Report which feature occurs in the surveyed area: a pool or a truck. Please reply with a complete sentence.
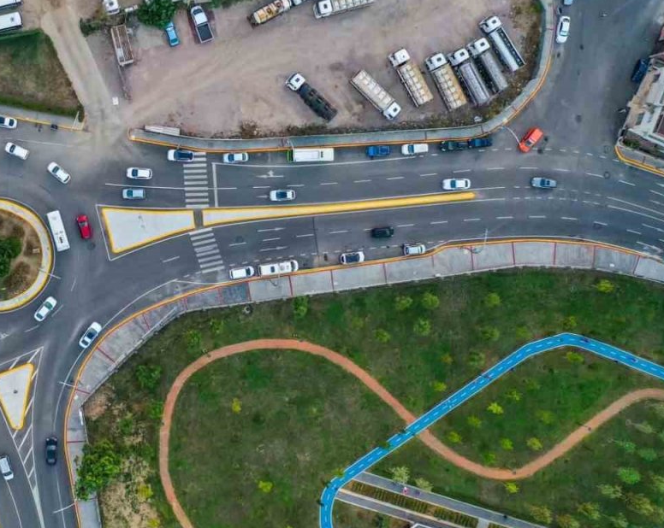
Visible in the photo is a truck.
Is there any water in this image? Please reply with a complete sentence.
No, the scene doesn't show any water.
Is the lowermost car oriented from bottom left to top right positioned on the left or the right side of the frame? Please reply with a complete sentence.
It is on the left.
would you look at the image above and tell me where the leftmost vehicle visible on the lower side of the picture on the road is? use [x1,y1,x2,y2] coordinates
[0,453,16,482]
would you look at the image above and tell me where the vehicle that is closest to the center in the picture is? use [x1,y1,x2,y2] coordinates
[338,250,365,264]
